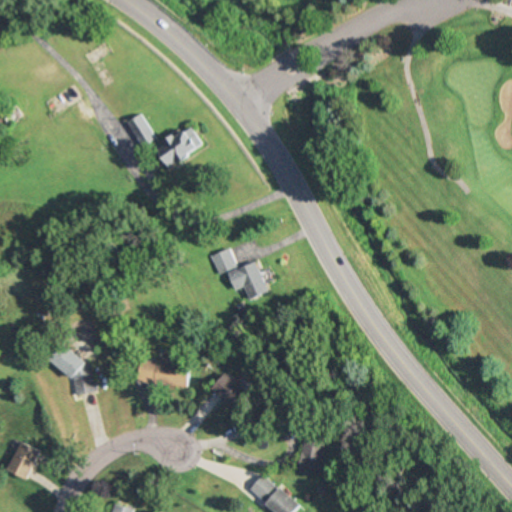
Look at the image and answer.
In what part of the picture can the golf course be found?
top right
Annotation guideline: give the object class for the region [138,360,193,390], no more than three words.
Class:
house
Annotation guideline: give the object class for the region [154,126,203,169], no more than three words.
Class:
house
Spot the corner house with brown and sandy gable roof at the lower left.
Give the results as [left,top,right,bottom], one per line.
[7,444,41,480]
